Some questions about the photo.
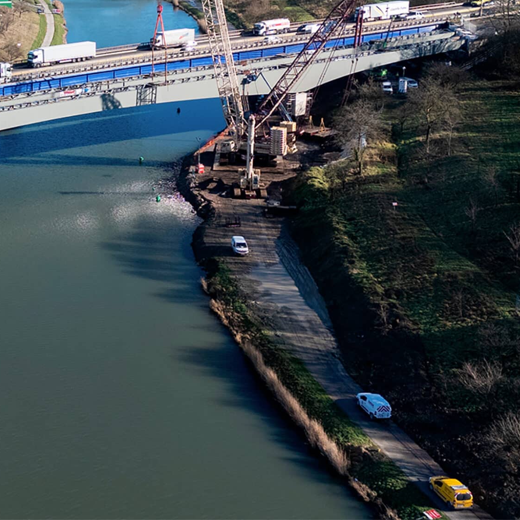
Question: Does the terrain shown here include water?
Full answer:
Yes, there's water in this view.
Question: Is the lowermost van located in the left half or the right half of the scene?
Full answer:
The lowermost van appears in the right half of the scene.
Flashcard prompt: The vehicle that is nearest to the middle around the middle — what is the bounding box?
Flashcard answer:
[229,232,254,255]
